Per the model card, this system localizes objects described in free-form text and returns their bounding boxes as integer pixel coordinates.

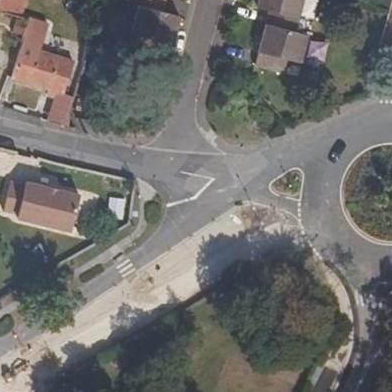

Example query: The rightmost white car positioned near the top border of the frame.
[236,6,257,22]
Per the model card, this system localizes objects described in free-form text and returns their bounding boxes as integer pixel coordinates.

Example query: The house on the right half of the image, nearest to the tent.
[258,24,311,63]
